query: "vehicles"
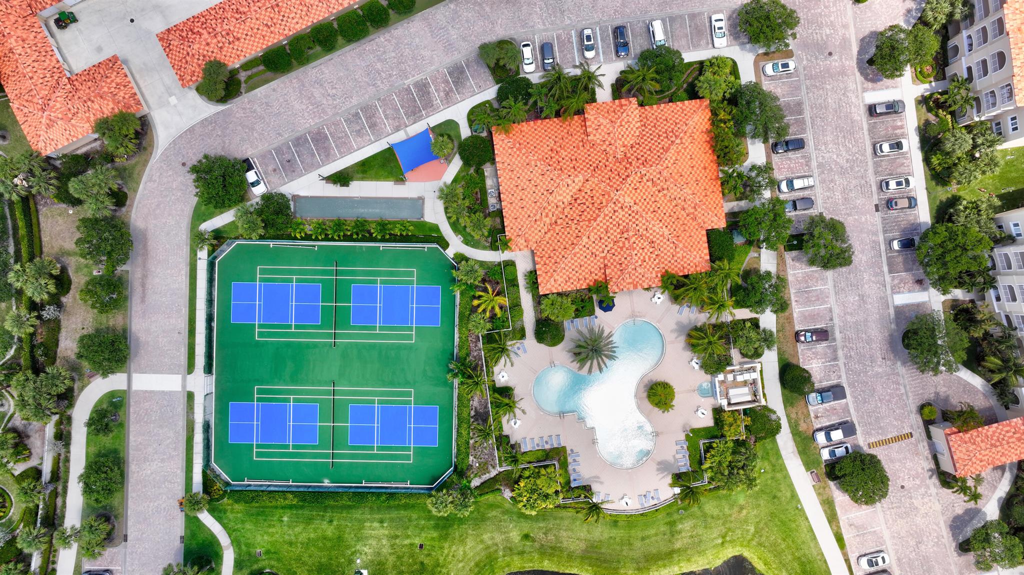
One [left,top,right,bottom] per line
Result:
[795,328,829,344]
[649,18,667,49]
[778,176,814,194]
[806,385,847,406]
[818,443,852,460]
[813,423,855,443]
[520,39,535,74]
[762,59,796,77]
[888,236,919,250]
[581,27,597,60]
[614,24,630,58]
[869,99,903,116]
[241,157,269,196]
[541,40,556,72]
[881,176,913,192]
[710,14,727,48]
[771,138,806,155]
[857,550,890,568]
[782,197,815,213]
[885,196,917,210]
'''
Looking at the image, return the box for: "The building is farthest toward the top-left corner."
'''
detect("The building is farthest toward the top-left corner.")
[0,0,149,155]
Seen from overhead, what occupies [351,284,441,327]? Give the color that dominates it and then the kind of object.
blue sports court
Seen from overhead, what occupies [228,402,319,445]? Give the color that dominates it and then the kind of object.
blue sports court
